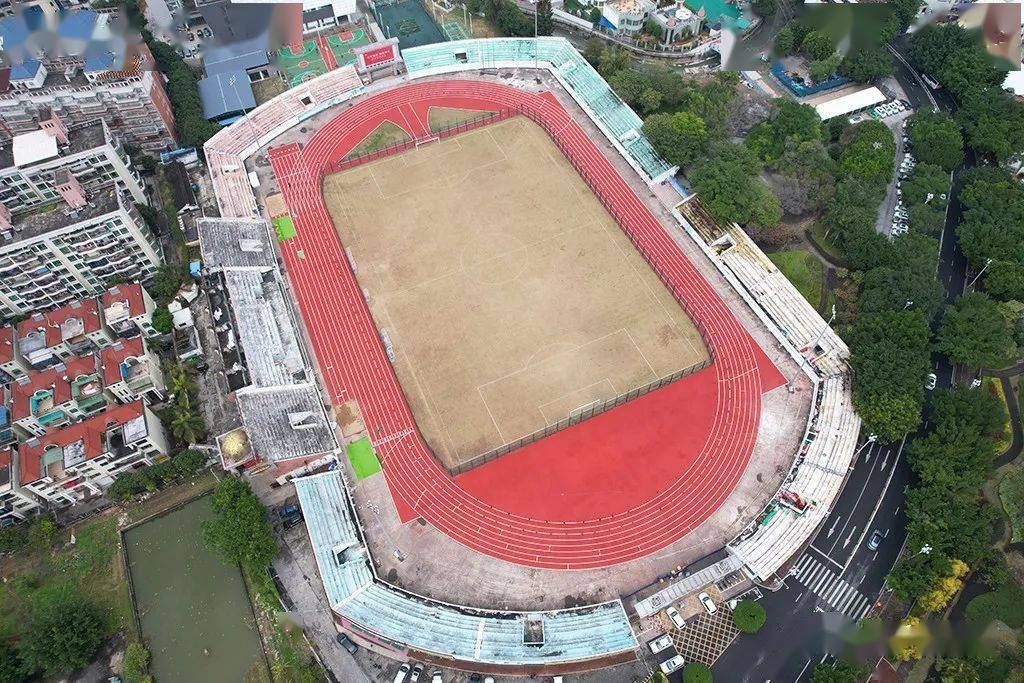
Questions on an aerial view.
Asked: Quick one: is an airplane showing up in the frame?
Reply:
No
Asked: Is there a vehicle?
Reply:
Yes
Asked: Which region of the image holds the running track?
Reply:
center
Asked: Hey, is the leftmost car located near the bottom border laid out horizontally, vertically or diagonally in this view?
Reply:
diagonally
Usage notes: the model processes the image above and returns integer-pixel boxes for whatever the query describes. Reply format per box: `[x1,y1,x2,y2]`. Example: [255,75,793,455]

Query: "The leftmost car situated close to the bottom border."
[334,631,358,656]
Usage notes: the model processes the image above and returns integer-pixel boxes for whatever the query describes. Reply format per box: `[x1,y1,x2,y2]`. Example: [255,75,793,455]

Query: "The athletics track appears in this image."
[266,80,792,569]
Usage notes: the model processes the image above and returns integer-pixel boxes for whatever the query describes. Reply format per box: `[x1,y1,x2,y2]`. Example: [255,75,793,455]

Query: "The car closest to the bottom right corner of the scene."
[868,526,887,550]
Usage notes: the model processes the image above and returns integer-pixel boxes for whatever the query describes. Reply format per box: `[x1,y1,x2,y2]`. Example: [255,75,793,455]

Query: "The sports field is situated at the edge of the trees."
[318,113,718,477]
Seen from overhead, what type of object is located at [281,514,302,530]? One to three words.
car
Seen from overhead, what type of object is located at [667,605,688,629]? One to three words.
car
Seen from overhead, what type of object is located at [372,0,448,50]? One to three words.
sports court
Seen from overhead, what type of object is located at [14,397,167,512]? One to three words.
house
